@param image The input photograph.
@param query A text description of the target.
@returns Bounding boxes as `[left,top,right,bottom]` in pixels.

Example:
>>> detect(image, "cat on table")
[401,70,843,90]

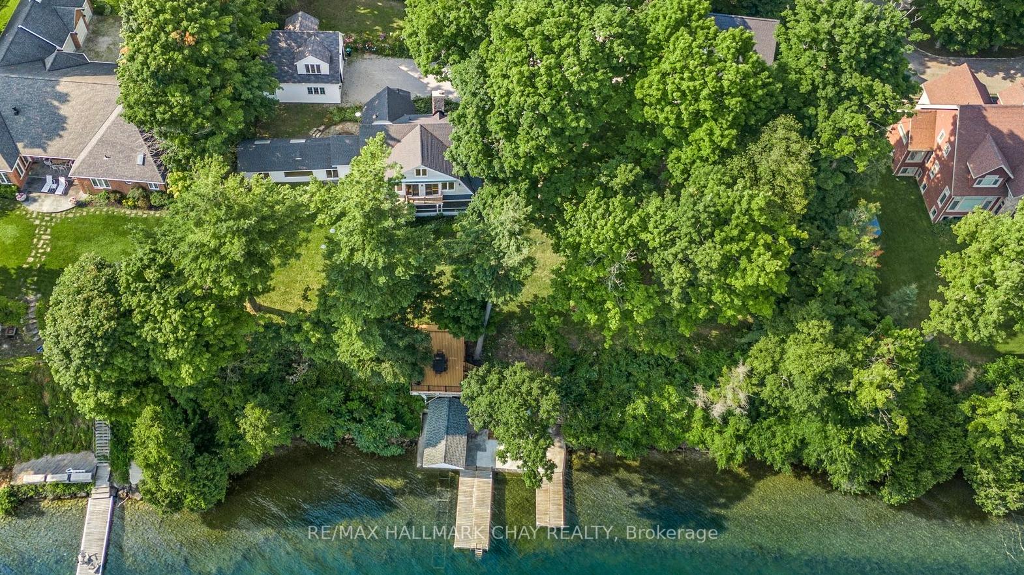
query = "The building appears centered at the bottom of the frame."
[423,399,468,470]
